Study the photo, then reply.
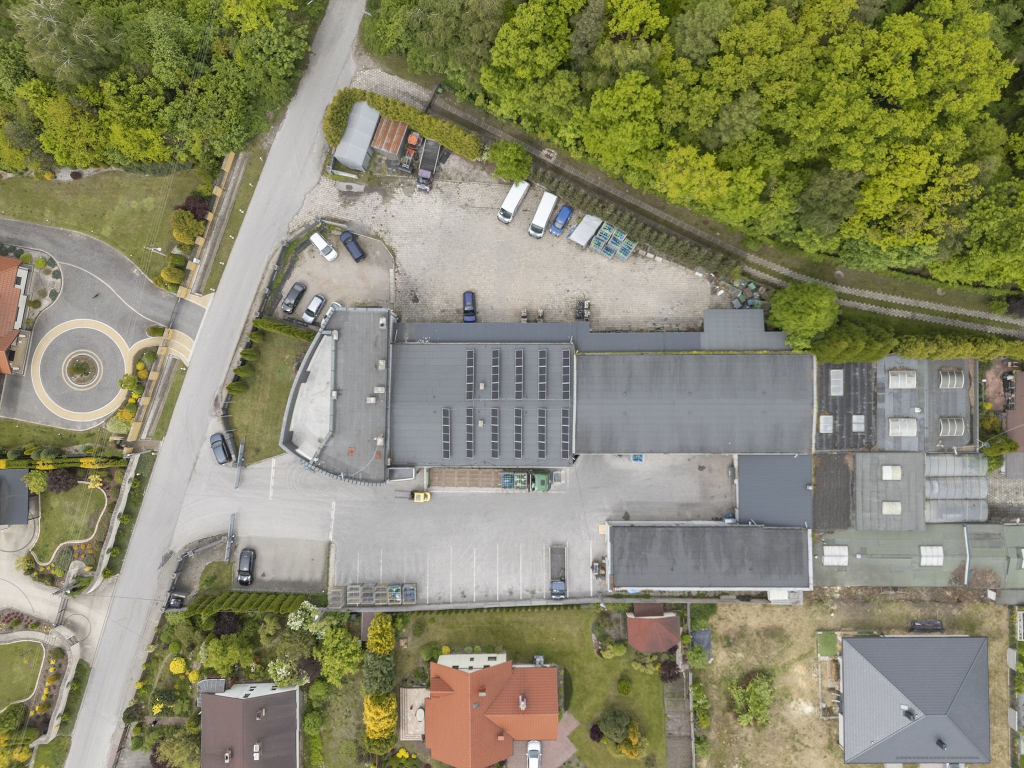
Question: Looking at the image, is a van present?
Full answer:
Yes, the image includes a van.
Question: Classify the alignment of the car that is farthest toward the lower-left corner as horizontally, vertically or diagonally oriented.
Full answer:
The car that is farthest toward the lower-left corner is laid out vertically.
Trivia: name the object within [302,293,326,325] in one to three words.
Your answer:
car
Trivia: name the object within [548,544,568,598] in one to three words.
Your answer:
vehicle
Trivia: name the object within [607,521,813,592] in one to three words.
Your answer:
building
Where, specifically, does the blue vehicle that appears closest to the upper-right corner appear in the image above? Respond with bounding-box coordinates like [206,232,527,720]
[551,204,573,237]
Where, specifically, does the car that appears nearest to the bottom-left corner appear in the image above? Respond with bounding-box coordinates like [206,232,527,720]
[235,547,255,584]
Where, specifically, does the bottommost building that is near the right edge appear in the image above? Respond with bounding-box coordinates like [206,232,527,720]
[837,632,988,765]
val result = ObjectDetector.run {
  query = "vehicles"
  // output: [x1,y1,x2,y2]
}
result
[548,544,568,598]
[340,230,366,264]
[461,292,477,323]
[318,301,341,330]
[282,281,307,315]
[551,204,573,237]
[209,432,232,466]
[235,547,255,584]
[416,138,443,195]
[525,740,542,768]
[310,230,337,263]
[426,470,552,492]
[499,178,528,225]
[400,130,423,179]
[529,190,558,240]
[302,293,326,325]
[397,492,431,502]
